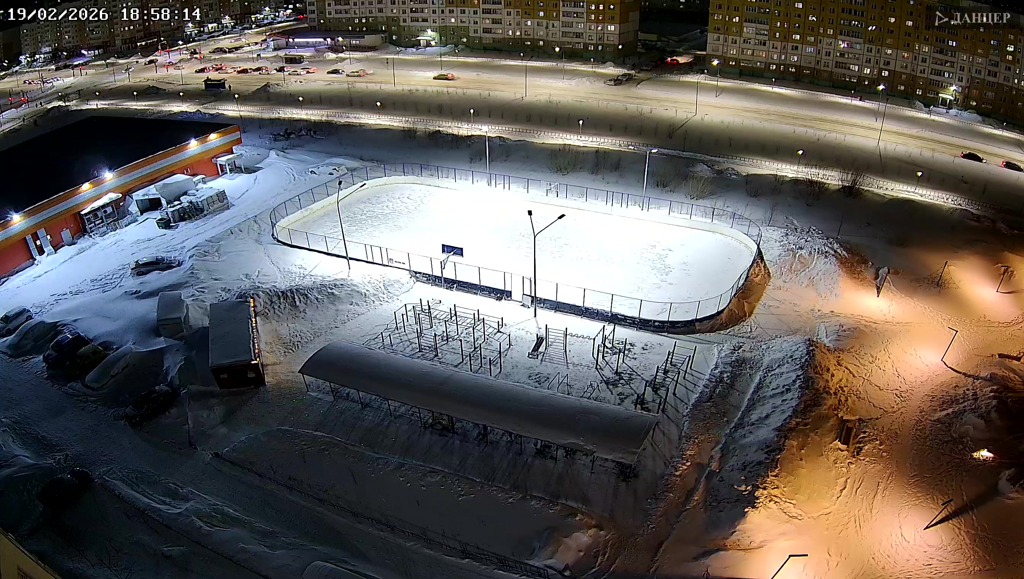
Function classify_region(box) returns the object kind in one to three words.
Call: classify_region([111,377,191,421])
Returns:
car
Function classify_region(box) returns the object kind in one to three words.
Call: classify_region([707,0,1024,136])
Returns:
building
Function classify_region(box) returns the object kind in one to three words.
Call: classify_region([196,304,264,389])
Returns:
shipping container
